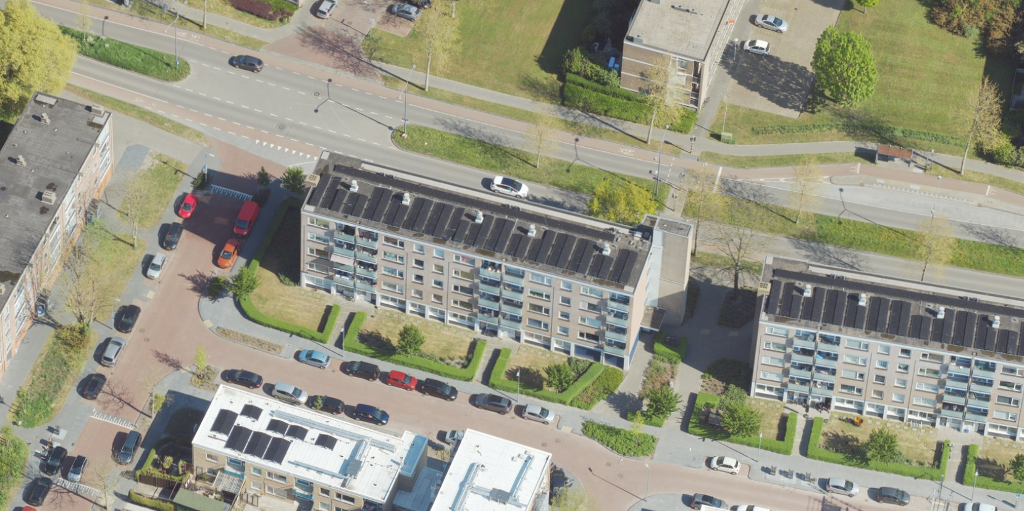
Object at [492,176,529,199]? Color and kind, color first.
white car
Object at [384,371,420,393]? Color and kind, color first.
red car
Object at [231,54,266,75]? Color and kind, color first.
gray car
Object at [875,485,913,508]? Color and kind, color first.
gray car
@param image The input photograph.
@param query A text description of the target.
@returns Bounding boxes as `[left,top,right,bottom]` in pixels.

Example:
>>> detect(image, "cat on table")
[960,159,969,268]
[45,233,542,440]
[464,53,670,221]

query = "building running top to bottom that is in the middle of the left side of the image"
[0,90,115,376]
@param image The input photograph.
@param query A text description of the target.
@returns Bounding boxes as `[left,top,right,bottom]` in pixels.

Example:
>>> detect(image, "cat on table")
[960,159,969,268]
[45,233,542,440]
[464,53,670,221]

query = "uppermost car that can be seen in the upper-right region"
[752,13,791,35]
